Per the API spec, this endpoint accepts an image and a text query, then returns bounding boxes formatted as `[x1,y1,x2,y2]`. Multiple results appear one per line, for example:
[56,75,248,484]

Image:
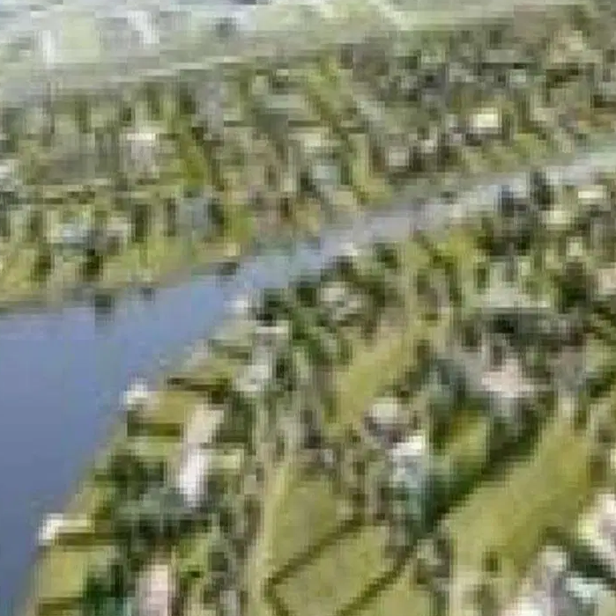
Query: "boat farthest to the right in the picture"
[219,257,241,271]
